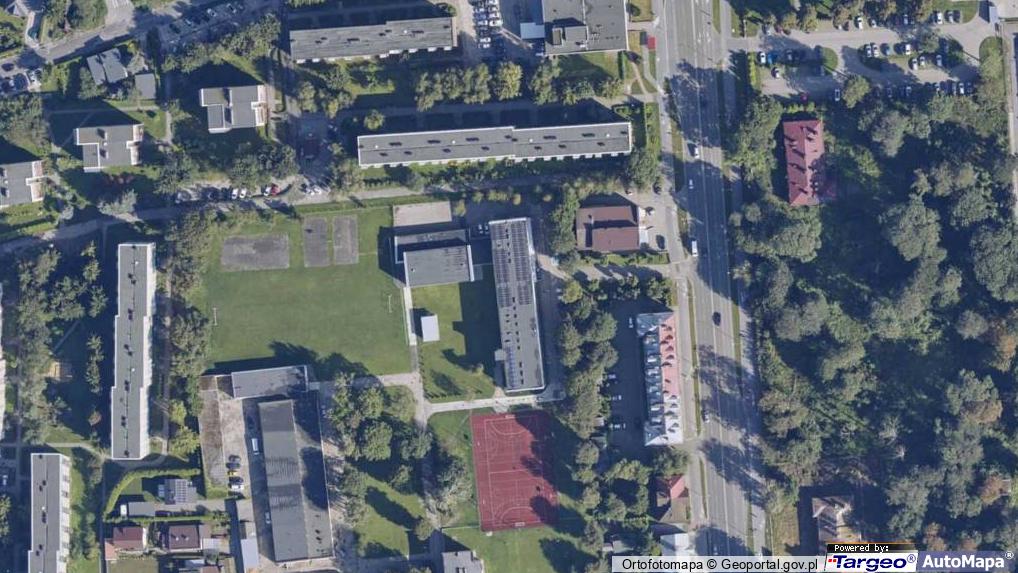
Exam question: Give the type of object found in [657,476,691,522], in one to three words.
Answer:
house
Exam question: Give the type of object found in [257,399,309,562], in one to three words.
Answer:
building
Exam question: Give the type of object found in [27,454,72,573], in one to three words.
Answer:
building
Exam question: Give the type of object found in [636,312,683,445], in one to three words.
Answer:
house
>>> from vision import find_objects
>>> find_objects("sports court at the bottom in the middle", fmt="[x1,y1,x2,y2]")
[471,409,558,531]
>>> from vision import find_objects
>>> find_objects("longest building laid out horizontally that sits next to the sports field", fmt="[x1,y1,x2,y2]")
[358,122,632,174]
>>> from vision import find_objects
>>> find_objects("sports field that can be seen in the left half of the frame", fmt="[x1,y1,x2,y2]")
[202,206,412,376]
